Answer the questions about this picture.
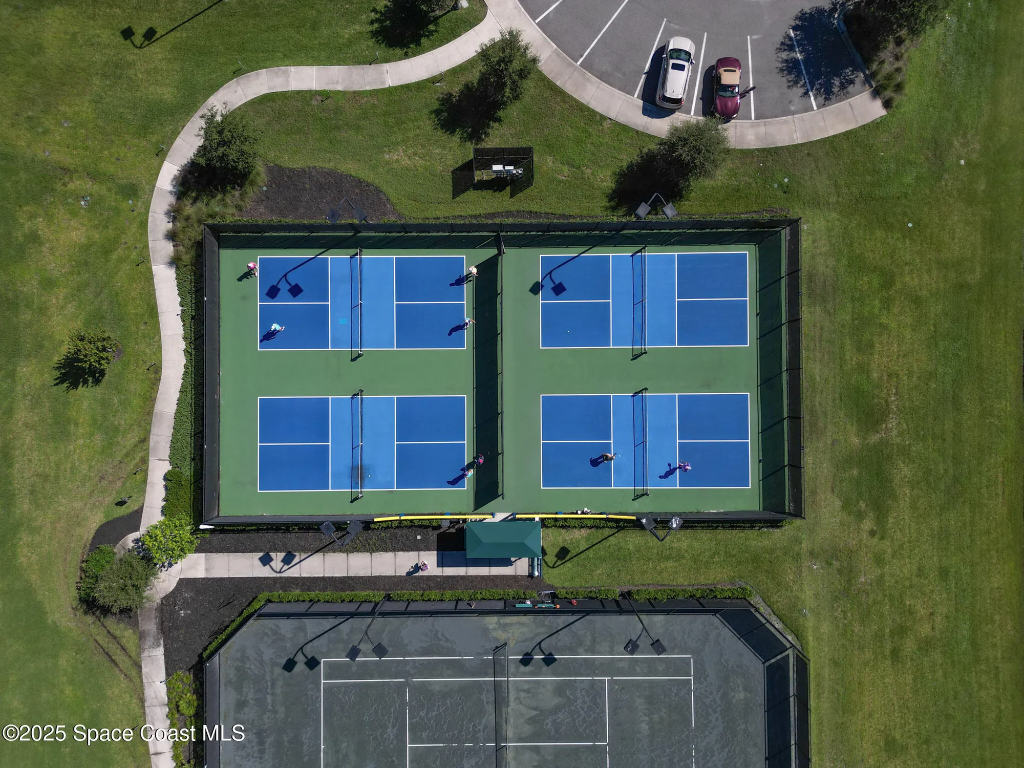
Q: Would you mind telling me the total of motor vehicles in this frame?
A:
2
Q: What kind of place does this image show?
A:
sports ground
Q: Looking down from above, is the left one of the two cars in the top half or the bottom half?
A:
top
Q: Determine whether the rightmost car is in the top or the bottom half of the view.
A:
top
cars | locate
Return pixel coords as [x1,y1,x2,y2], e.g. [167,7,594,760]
[711,58,757,122]
[655,35,696,112]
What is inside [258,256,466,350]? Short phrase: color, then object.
blue sports court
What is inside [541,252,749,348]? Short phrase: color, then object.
blue sports court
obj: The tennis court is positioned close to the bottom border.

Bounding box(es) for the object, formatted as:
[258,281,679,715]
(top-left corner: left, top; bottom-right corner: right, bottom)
[218,596,798,768]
